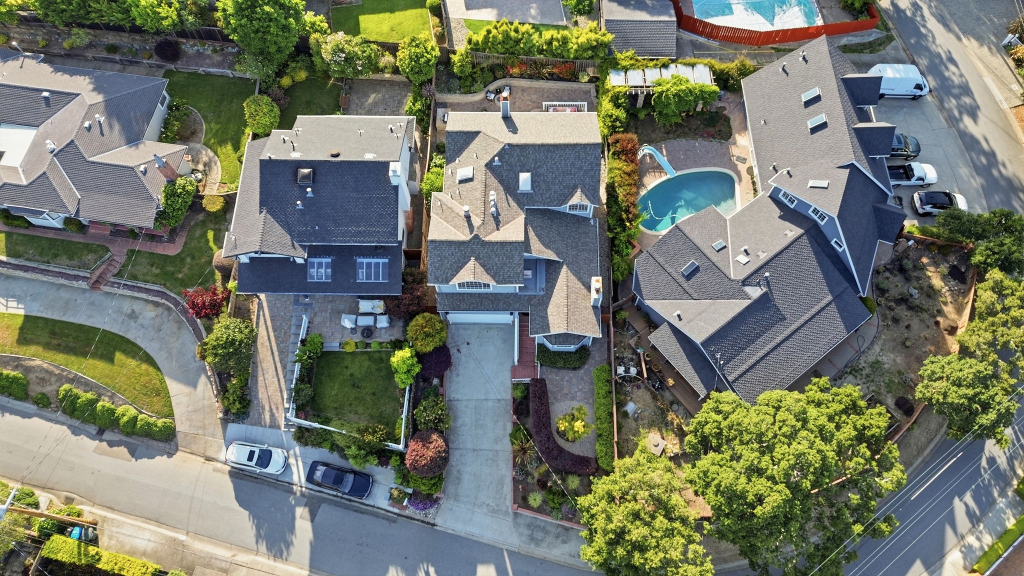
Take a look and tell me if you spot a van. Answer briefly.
Yes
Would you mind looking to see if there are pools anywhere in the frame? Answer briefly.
Yes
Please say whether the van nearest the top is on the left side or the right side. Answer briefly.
right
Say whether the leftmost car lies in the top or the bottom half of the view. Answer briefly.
bottom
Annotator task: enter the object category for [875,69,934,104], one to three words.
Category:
van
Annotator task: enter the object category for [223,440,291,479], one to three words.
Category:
car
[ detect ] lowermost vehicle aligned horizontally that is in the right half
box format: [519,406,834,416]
[911,193,969,218]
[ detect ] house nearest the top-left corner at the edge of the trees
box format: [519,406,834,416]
[0,45,192,237]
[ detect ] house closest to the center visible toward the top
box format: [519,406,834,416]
[427,87,603,355]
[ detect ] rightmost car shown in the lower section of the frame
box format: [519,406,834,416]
[306,461,375,503]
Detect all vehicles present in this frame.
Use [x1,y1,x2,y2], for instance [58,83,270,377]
[875,69,934,104]
[884,137,928,164]
[223,440,291,479]
[911,193,969,218]
[306,461,375,503]
[886,165,944,192]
